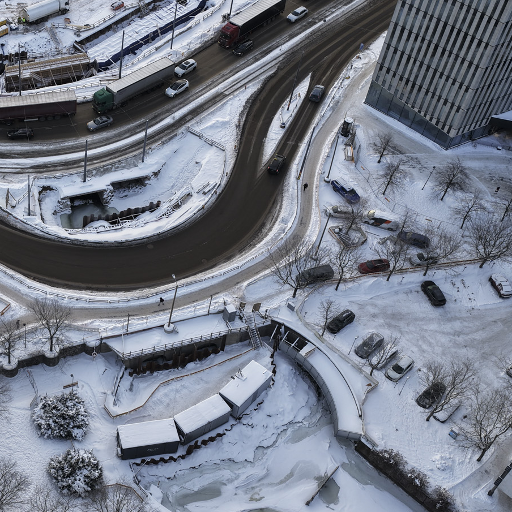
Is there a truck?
Yes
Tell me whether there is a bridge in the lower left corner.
No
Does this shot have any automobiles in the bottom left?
No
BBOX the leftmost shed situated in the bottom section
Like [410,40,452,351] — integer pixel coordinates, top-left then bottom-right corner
[113,418,180,460]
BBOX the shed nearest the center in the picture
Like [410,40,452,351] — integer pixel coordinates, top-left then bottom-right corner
[219,359,273,419]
